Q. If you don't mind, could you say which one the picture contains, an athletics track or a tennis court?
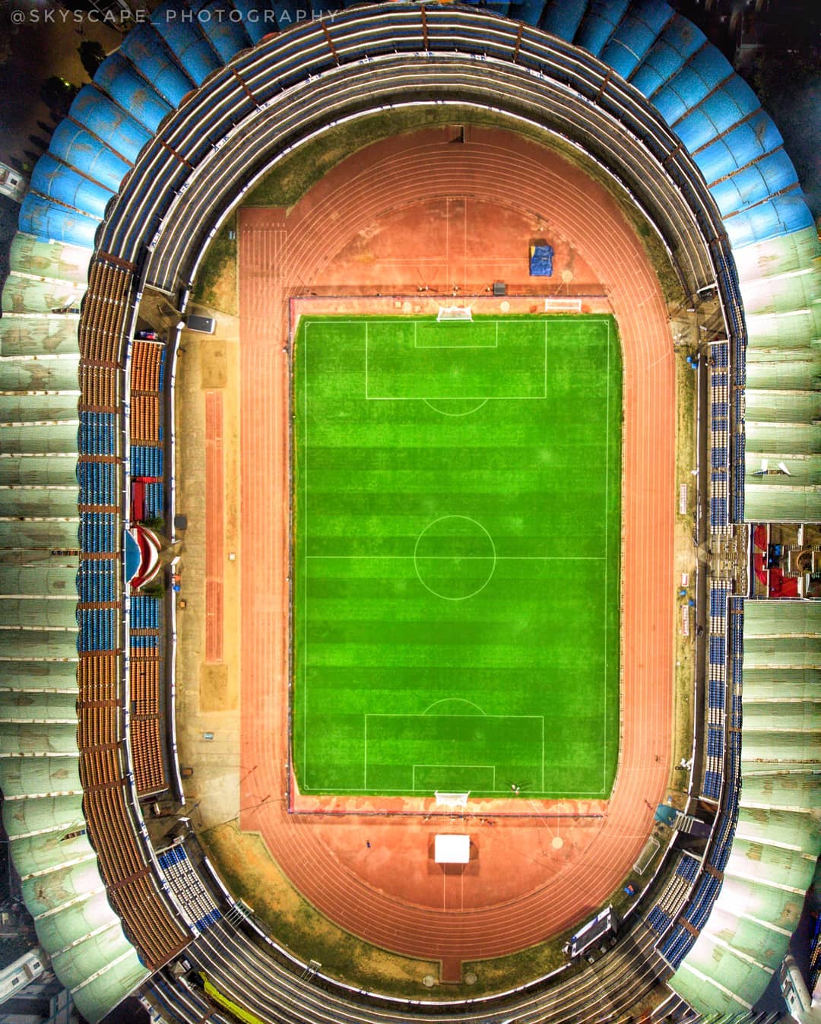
athletics track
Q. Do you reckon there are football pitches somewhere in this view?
Yes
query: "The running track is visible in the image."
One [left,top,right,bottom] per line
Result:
[239,126,675,982]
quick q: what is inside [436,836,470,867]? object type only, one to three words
tent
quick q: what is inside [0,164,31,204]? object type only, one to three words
house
